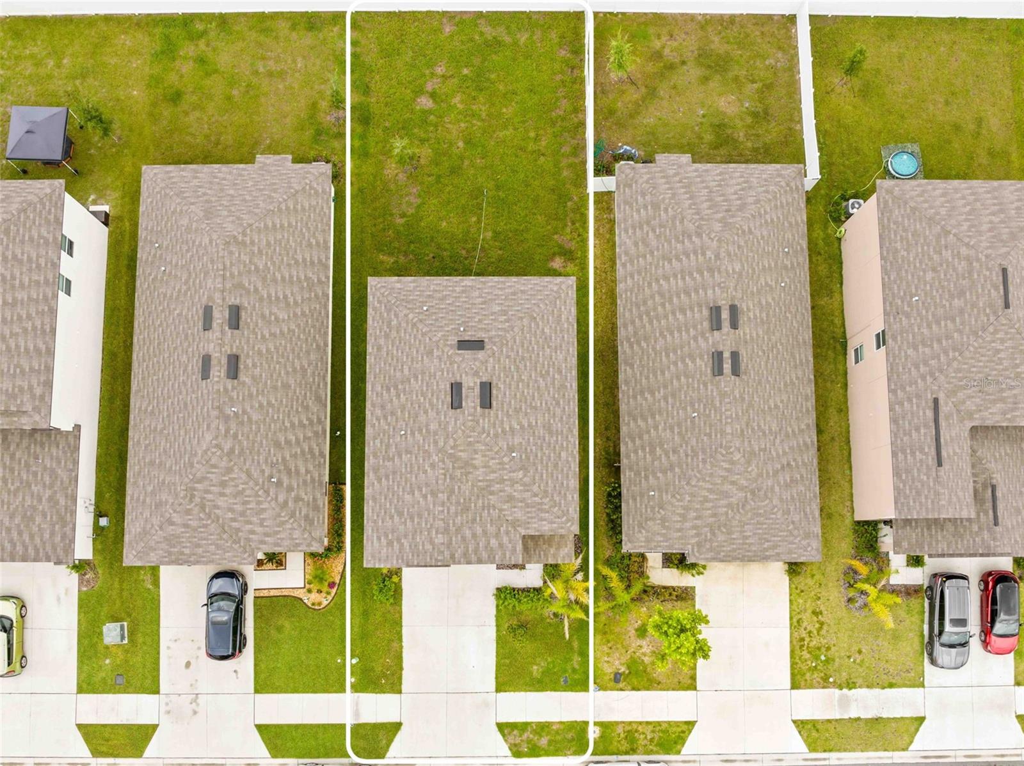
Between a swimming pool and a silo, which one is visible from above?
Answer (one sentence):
The one in the frame is a swimming pool.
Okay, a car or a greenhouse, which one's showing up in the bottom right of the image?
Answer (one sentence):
There is a car in the bottom right of the image.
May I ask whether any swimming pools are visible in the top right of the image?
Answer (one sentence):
Yes, a swimming pool is visible in the top right of the image.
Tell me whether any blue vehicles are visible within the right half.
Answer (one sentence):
No, there's no blue vehicle to be seen within the right half.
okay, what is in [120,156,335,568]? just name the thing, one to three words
house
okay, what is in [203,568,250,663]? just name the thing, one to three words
car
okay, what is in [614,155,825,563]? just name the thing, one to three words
house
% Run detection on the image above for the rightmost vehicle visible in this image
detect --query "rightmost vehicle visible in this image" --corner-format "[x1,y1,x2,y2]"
[974,568,1024,654]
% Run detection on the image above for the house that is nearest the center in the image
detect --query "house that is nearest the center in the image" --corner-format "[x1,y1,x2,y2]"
[362,275,581,567]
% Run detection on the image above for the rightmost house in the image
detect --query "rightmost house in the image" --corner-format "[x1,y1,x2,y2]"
[840,178,1024,559]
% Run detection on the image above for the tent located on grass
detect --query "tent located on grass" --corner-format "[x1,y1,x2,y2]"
[6,105,86,174]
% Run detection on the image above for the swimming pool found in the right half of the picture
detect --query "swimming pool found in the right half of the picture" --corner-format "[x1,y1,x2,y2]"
[889,152,919,179]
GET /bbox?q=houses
[840,178,1024,559]
[362,275,581,567]
[120,156,335,568]
[0,178,110,563]
[614,155,825,563]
